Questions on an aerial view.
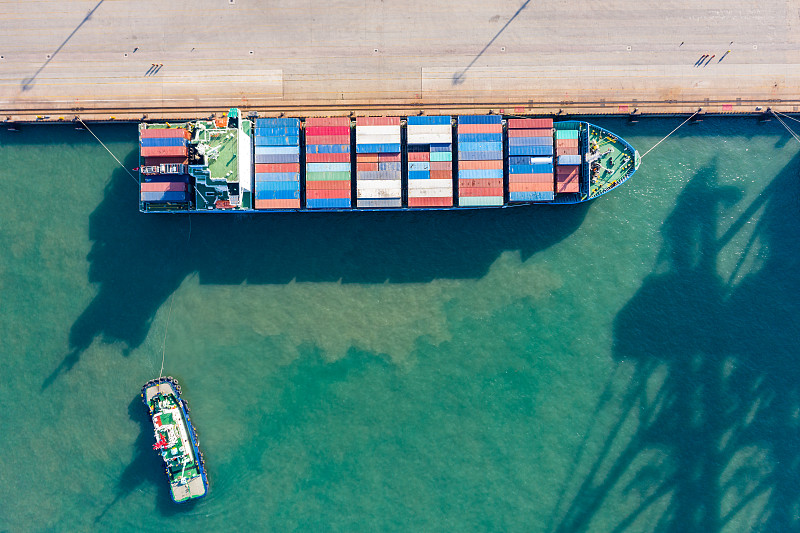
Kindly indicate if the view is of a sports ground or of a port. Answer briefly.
port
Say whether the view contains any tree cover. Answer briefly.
No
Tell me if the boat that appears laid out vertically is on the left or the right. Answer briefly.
left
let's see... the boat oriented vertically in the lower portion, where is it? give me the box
[144,375,209,500]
